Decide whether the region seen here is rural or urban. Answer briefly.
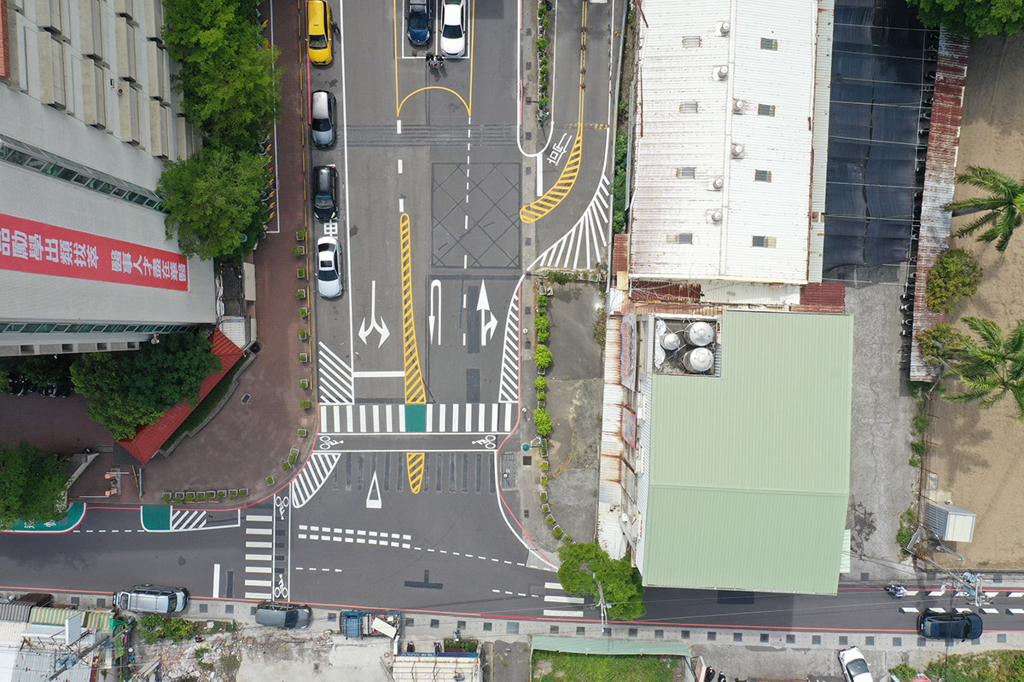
urban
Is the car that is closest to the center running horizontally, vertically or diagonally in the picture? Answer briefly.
vertically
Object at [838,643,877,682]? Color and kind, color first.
white car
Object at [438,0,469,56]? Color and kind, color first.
white car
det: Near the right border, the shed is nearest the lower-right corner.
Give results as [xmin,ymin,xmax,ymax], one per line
[923,503,978,544]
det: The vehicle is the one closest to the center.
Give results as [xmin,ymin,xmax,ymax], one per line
[312,234,343,298]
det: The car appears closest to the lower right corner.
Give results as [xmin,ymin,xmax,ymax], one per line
[917,610,984,645]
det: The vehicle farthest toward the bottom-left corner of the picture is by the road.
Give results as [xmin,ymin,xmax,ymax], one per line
[107,583,185,618]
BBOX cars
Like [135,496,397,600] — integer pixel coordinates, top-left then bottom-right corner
[305,85,337,147]
[838,643,877,682]
[312,234,343,298]
[438,0,469,56]
[251,600,312,634]
[917,610,984,645]
[307,160,339,220]
[107,583,185,618]
[301,0,334,59]
[403,0,433,40]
